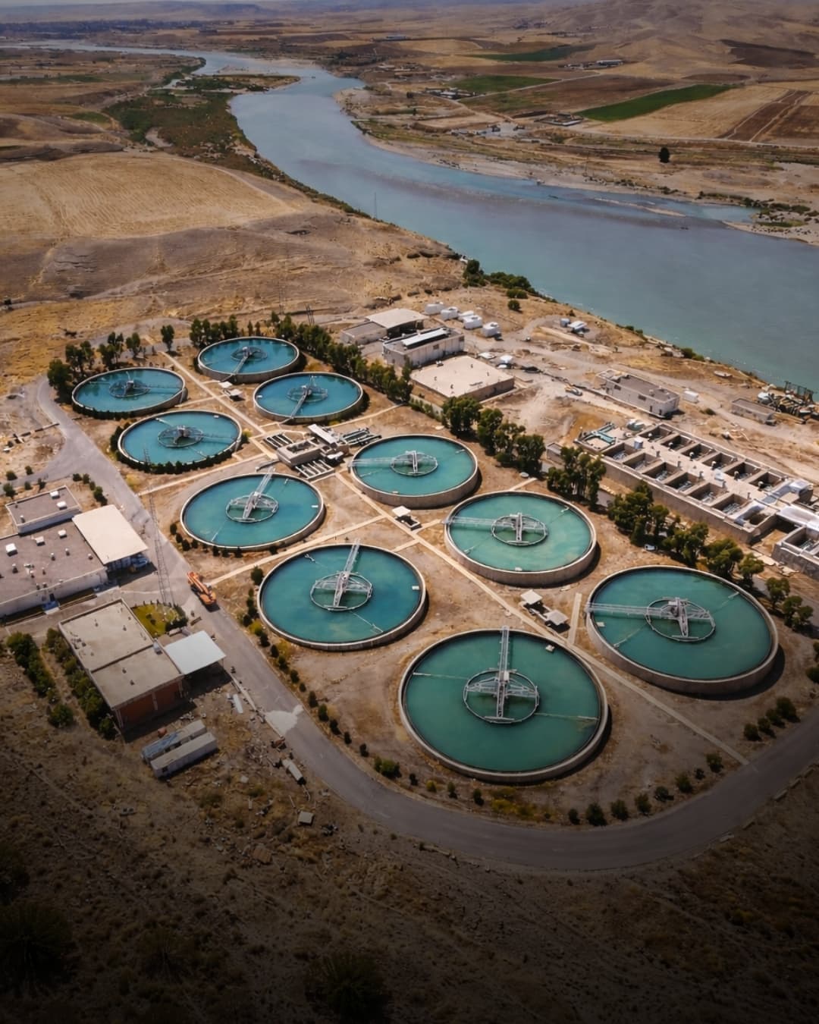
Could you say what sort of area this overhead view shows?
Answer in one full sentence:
This looks like an industrial area.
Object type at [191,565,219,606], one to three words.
work vehicle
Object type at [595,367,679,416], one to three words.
building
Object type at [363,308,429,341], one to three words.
shed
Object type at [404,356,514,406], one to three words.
building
